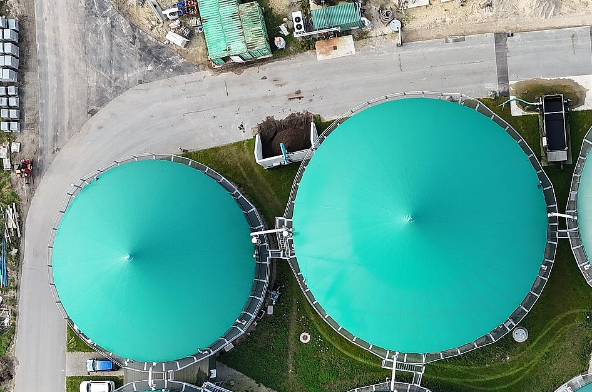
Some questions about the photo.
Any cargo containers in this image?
Yes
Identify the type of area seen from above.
industrial area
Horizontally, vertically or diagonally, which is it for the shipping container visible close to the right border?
vertically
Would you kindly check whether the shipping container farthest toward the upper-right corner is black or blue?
black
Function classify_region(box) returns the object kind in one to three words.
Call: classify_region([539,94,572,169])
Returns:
shipping container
